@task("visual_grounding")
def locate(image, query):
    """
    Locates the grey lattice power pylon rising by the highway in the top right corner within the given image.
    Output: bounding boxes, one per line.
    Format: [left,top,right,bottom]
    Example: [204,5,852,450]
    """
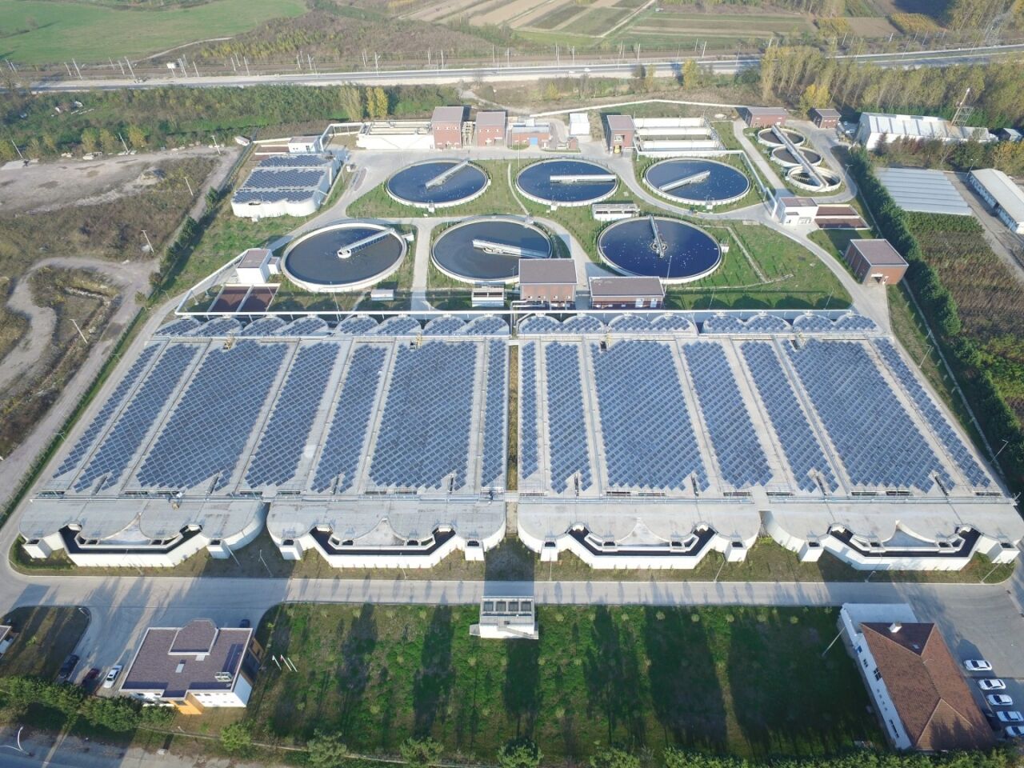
[977,0,1022,47]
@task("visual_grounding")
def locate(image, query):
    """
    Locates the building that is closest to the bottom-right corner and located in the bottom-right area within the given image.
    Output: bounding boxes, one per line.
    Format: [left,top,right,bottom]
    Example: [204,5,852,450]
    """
[833,605,993,753]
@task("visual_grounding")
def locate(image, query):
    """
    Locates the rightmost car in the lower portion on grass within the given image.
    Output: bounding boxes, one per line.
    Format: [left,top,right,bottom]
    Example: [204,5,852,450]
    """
[238,610,252,628]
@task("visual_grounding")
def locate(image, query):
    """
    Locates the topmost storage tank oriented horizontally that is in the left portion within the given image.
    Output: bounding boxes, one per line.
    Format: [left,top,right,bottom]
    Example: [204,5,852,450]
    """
[359,119,433,149]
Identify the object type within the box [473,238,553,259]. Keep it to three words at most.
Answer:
bridge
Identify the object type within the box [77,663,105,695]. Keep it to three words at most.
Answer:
car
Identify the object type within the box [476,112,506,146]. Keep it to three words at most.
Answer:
building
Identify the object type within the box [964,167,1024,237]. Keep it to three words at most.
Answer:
barn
